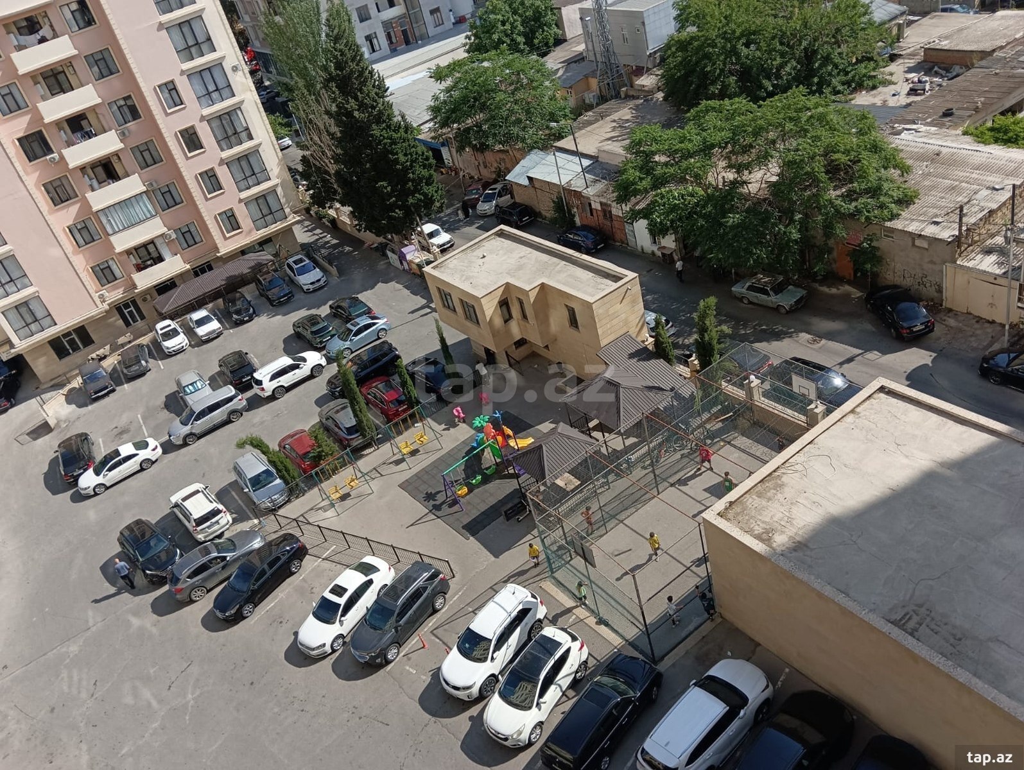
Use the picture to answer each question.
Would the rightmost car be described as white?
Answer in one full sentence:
No, the rightmost car is black.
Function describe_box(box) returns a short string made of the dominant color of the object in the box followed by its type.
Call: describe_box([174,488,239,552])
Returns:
white car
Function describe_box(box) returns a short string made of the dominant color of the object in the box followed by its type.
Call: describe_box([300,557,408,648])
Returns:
white car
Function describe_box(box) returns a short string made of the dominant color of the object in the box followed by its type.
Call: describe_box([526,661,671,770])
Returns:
black car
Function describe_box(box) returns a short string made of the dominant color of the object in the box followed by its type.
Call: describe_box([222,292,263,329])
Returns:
black car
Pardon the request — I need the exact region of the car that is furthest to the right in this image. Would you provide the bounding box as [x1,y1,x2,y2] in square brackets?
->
[958,345,1024,392]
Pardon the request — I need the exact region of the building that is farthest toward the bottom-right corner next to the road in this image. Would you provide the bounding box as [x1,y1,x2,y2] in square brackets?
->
[700,378,1024,770]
